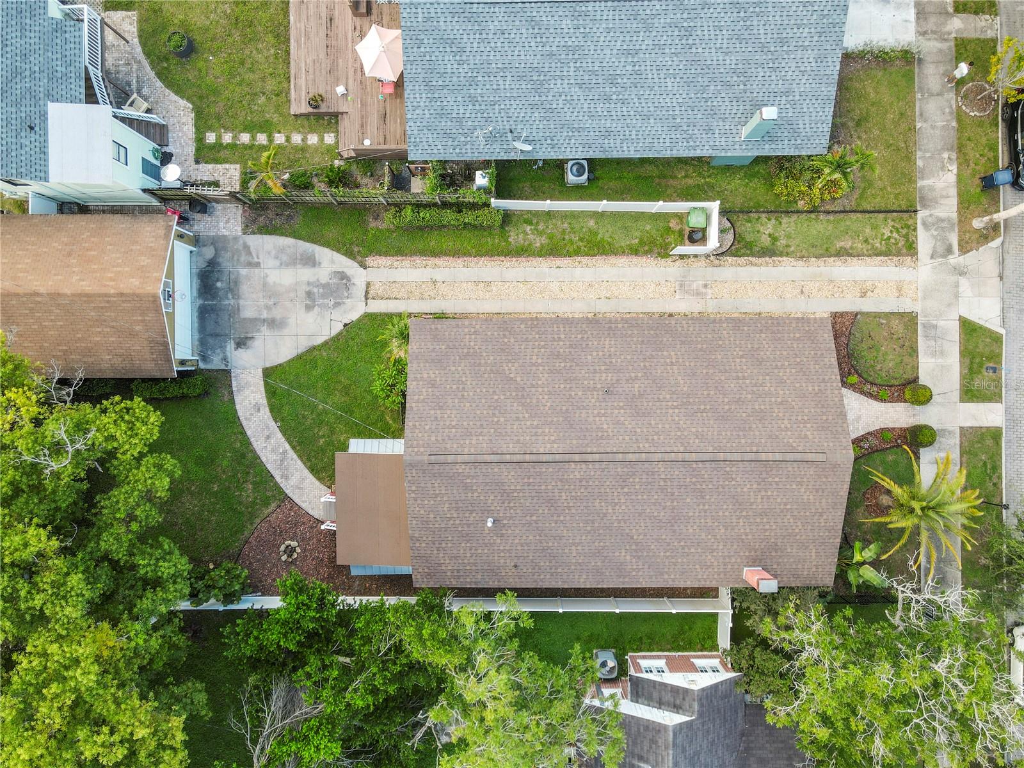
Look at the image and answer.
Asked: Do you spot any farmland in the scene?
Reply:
No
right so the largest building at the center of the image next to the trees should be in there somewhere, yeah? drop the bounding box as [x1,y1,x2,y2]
[335,312,855,594]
